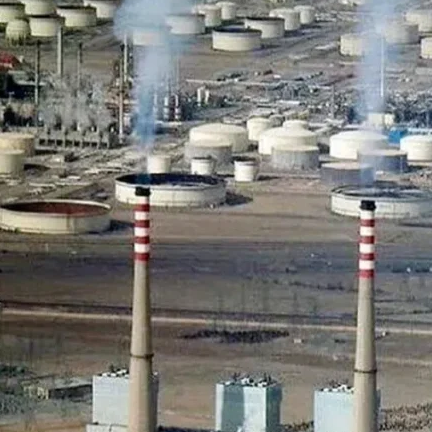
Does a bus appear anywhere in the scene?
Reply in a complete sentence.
No, no bus is visible in the scene.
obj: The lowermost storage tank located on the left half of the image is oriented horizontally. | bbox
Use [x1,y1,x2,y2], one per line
[0,198,115,234]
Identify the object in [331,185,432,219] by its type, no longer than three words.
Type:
storage tank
